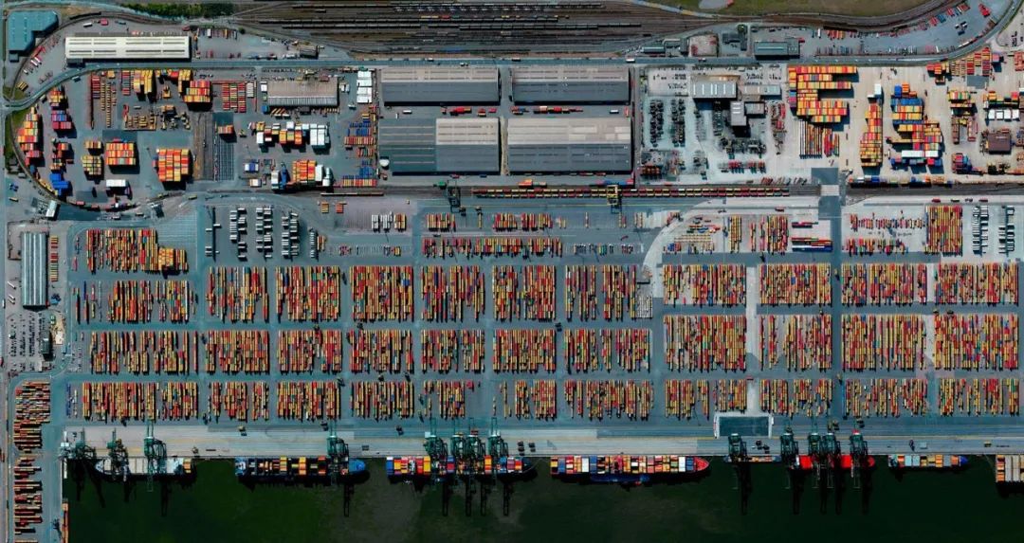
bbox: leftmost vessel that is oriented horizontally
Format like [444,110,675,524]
[95,459,194,474]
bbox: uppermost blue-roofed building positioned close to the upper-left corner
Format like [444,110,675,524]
[9,11,59,50]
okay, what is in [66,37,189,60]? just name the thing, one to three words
building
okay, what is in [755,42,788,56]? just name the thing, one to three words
shed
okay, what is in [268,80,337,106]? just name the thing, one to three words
shed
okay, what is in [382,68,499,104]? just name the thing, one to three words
building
